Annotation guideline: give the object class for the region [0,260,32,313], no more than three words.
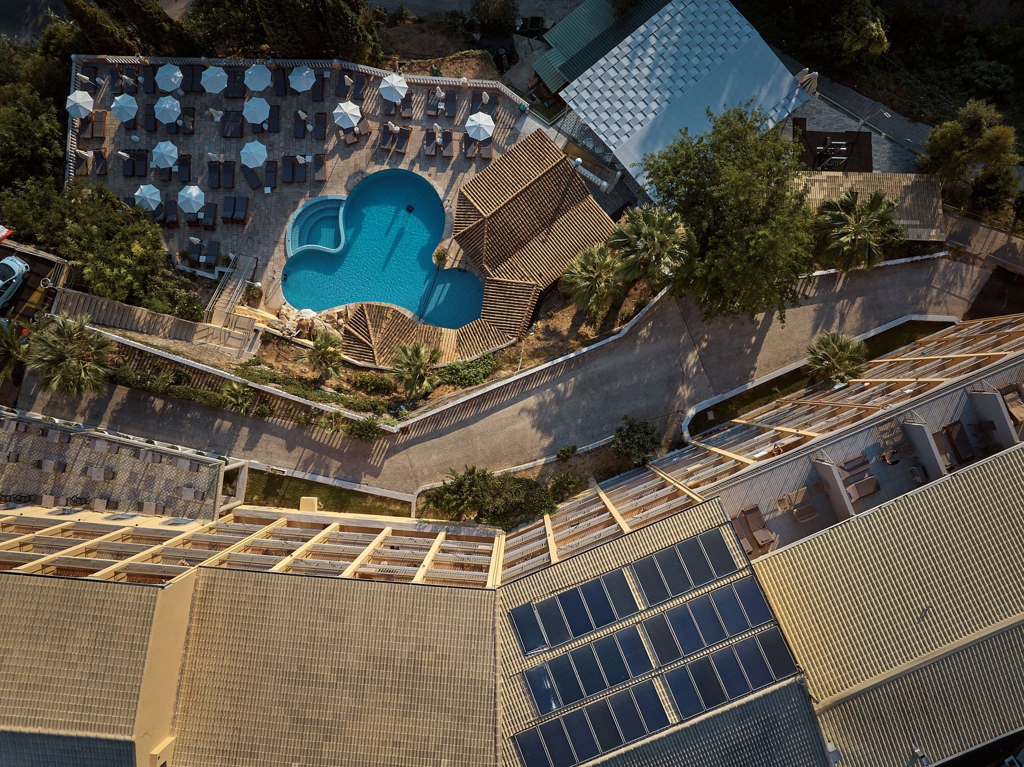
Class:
car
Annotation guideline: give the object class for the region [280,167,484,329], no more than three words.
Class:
swimming pool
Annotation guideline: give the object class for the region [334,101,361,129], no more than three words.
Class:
umbrella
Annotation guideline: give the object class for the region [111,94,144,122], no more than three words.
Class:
umbrella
